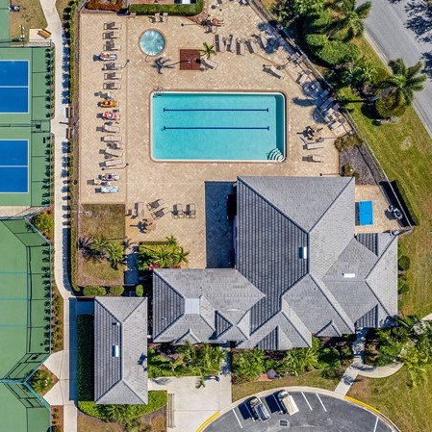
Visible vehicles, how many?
2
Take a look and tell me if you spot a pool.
Yes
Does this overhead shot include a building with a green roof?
No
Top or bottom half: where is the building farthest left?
bottom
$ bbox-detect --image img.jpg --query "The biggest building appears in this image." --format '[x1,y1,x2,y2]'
[152,174,400,351]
